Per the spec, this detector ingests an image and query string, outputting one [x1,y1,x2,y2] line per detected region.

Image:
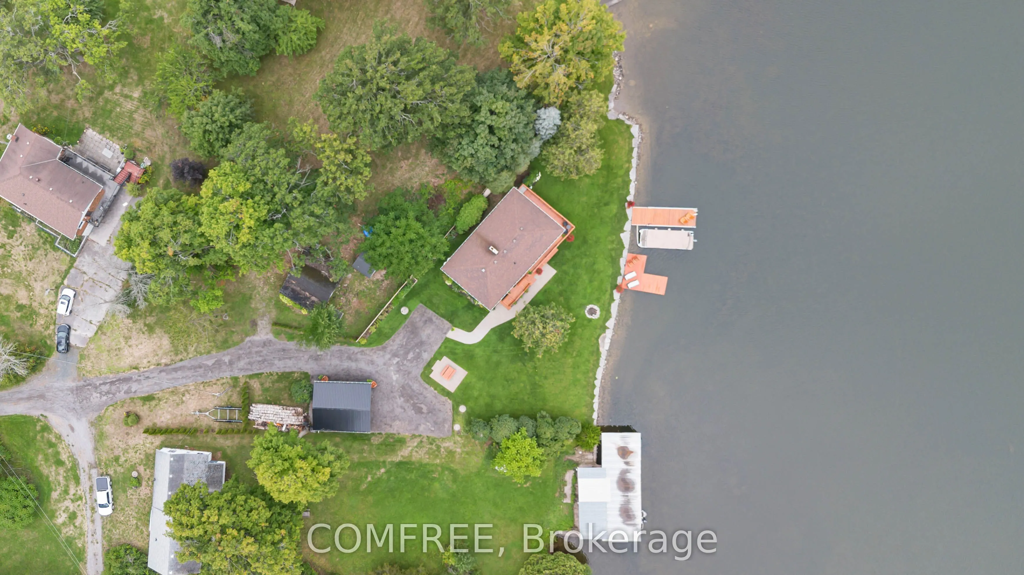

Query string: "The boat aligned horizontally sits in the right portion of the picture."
[638,229,695,250]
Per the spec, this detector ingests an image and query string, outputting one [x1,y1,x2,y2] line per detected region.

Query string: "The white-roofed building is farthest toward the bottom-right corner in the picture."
[577,430,641,542]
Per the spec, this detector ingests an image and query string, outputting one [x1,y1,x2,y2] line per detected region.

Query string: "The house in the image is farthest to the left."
[0,123,107,240]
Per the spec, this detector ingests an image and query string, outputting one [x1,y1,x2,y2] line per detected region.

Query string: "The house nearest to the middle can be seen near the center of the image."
[440,186,565,312]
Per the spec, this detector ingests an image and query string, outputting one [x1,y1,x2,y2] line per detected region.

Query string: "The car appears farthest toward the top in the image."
[58,286,78,318]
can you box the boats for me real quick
[638,229,695,250]
[641,513,647,527]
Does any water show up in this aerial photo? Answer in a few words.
Yes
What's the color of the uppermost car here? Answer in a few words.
white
